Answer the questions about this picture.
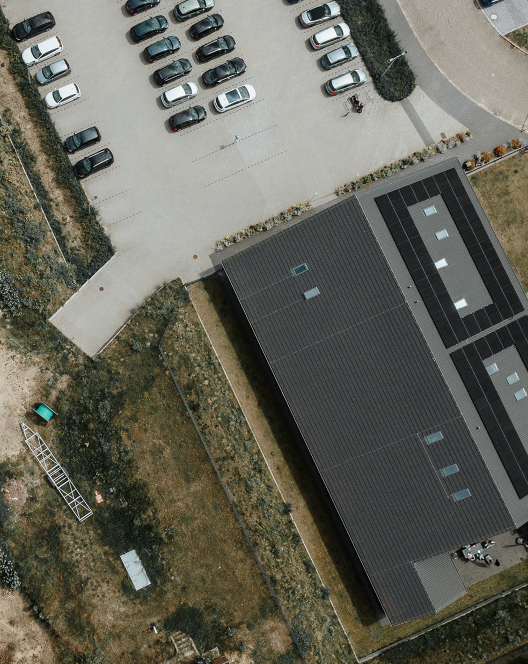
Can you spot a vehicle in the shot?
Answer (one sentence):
Yes, the image includes a vehicle.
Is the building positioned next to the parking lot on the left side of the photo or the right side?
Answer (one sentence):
The building positioned next to the parking lot appears in the right half of the scene.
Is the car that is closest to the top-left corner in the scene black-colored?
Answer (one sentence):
Yes, the car that is closest to the top-left corner is indeed black.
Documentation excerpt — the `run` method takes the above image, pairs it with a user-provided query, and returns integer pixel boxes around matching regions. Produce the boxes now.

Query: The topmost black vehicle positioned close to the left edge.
[11,9,56,42]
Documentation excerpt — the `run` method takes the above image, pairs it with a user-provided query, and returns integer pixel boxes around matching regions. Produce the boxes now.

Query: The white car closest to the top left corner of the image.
[22,36,62,67]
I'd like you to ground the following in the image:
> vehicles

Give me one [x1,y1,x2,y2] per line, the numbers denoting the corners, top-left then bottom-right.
[160,81,199,109]
[201,56,248,88]
[212,83,257,114]
[351,94,364,115]
[123,0,161,19]
[298,0,339,31]
[11,9,56,42]
[188,12,224,41]
[151,58,192,87]
[318,43,358,72]
[194,34,237,65]
[22,36,62,67]
[172,0,216,25]
[42,81,81,110]
[72,147,116,179]
[34,58,72,87]
[167,105,208,133]
[321,68,367,99]
[127,14,170,45]
[62,125,102,154]
[309,22,348,52]
[142,35,182,65]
